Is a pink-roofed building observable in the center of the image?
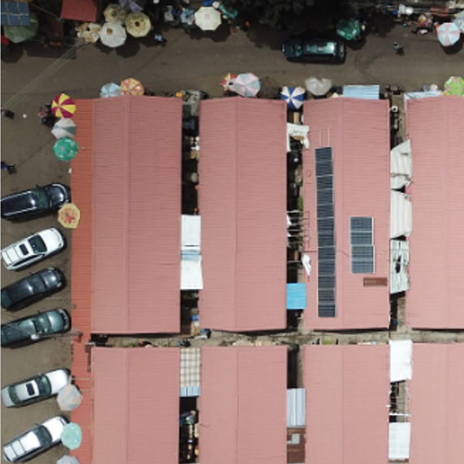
Yes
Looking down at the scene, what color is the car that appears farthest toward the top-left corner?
black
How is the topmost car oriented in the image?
horizontally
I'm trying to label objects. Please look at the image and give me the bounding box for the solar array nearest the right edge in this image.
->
[350,216,374,274]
